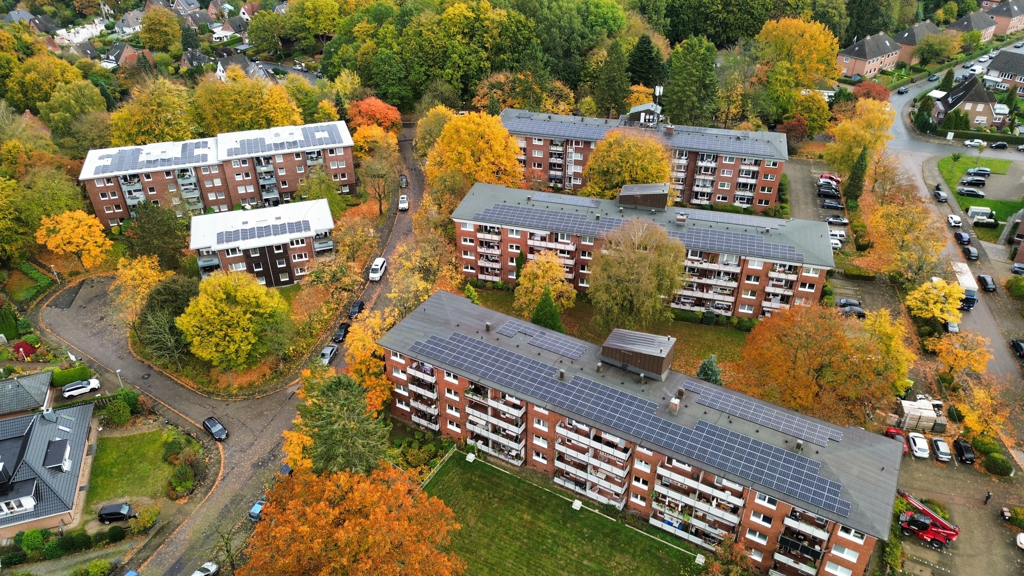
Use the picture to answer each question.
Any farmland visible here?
No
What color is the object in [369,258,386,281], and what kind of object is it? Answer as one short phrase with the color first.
white vehicle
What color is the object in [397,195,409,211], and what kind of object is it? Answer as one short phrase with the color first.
white vehicle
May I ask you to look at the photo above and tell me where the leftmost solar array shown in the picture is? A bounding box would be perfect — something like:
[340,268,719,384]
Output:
[93,142,208,175]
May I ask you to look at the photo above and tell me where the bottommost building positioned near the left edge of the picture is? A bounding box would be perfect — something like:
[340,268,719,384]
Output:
[0,401,95,542]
